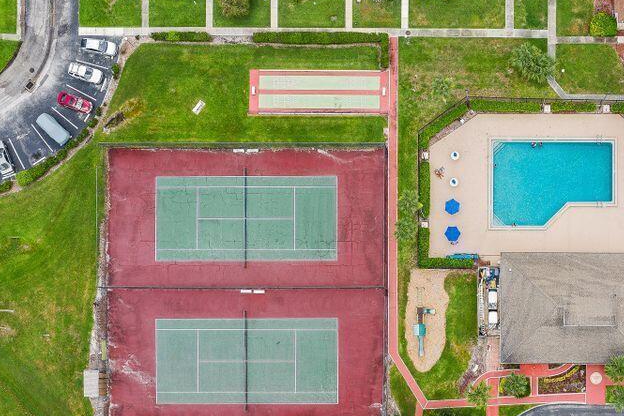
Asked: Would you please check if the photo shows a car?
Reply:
Yes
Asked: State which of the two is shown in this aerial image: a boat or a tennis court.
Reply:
tennis court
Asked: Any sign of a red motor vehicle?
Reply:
Yes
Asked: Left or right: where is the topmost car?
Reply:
left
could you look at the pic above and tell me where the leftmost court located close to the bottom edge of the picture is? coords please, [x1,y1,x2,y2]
[107,290,384,416]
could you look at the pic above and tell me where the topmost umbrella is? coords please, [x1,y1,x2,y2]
[445,198,459,214]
